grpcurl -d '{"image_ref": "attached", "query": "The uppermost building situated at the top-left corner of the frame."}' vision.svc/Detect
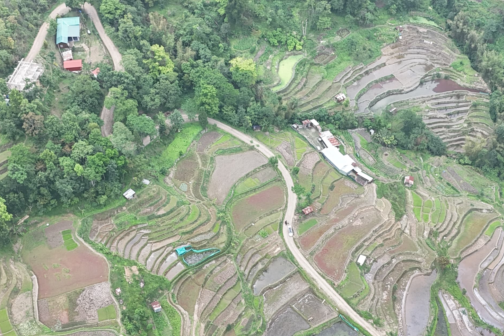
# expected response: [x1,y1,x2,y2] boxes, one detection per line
[56,16,82,52]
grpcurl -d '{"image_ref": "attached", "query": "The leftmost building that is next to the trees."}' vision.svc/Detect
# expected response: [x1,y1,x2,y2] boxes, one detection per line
[5,60,39,93]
